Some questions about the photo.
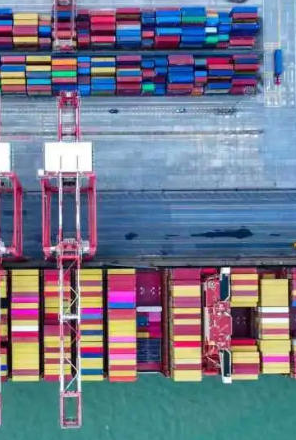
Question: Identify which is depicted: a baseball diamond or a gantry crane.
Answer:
gantry crane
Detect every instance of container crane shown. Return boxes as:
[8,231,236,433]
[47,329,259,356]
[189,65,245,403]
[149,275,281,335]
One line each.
[36,90,96,430]
[53,0,76,56]
[0,90,27,430]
